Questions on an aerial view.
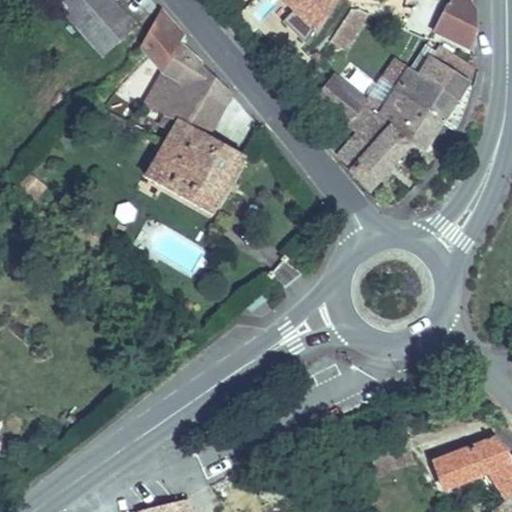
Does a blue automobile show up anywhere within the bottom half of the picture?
No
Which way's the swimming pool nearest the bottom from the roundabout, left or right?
to the left of it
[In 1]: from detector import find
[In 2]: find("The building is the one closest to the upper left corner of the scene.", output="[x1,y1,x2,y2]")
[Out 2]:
[63,0,137,60]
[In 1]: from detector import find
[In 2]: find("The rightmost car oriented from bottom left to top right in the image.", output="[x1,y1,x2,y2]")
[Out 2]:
[410,318,431,334]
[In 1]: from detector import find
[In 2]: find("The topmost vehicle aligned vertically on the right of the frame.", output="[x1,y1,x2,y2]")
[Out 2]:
[480,32,492,56]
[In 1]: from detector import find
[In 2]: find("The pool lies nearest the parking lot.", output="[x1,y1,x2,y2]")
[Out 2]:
[134,220,208,278]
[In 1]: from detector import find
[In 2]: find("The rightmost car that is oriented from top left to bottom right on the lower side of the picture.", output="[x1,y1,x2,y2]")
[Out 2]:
[335,347,356,366]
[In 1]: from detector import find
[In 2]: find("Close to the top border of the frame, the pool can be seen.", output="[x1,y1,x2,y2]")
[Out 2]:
[248,0,282,24]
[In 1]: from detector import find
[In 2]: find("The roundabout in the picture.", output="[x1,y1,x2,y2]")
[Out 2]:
[330,228,456,354]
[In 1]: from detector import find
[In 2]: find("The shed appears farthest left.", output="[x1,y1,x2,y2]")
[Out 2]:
[22,174,48,198]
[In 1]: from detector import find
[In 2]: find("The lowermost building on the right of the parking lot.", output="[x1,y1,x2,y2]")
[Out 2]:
[432,436,512,512]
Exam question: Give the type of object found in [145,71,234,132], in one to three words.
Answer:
house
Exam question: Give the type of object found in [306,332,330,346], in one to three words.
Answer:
vehicle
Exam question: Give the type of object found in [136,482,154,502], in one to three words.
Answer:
car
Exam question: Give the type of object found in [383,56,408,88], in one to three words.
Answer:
shed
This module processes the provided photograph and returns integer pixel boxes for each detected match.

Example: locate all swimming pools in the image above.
[134,220,208,278]
[248,0,282,24]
